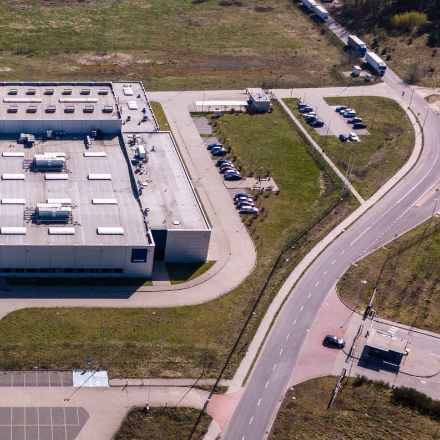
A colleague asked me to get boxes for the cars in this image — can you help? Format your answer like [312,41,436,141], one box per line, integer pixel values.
[310,121,323,127]
[212,147,225,152]
[207,143,223,149]
[353,124,366,129]
[342,111,357,118]
[216,159,232,165]
[339,109,353,114]
[347,118,363,124]
[234,193,252,200]
[212,150,228,157]
[225,170,240,175]
[302,112,316,118]
[300,107,314,113]
[296,103,310,109]
[346,134,360,141]
[306,115,318,122]
[335,106,347,112]
[238,201,254,208]
[222,165,236,172]
[337,134,350,141]
[225,173,241,180]
[322,335,345,347]
[240,206,259,213]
